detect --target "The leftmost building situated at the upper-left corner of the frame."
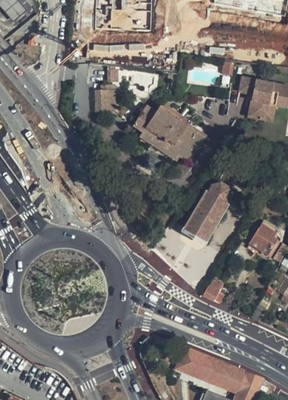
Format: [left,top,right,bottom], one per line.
[0,0,27,22]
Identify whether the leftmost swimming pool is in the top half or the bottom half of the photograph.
top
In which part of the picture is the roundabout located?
bottom left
